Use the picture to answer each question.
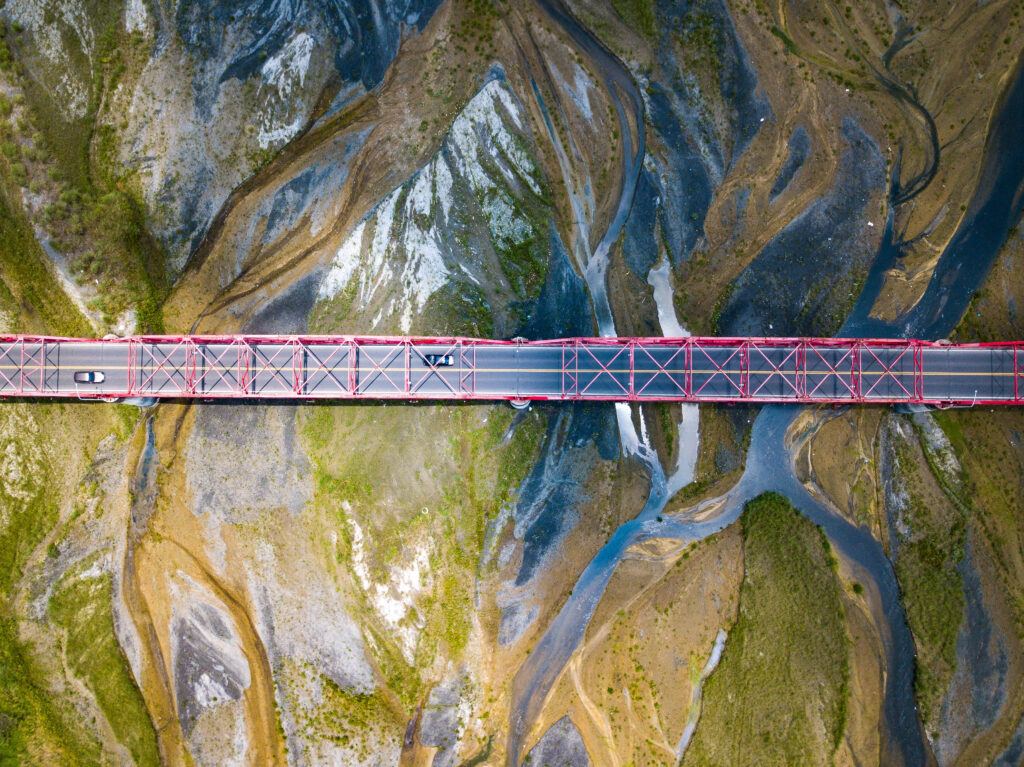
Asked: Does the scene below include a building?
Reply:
No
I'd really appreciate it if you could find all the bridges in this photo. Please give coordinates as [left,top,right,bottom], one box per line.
[0,333,1024,414]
